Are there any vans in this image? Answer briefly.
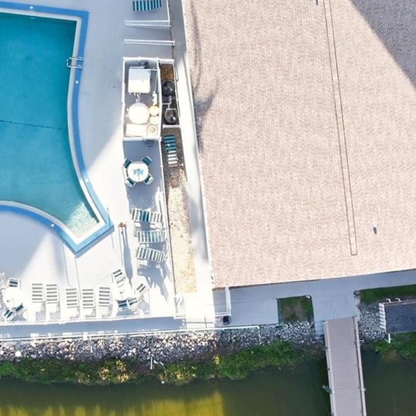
No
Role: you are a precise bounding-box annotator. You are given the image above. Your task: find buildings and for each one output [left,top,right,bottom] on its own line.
[376,299,416,341]
[181,0,416,289]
